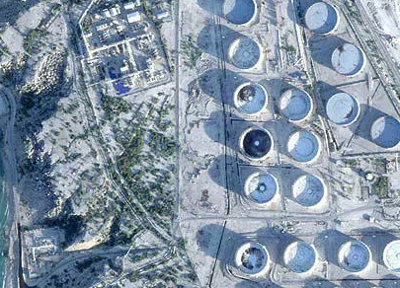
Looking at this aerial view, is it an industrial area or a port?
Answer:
industrial area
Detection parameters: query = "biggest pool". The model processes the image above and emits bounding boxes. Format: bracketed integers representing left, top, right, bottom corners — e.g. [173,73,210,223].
[111,79,129,95]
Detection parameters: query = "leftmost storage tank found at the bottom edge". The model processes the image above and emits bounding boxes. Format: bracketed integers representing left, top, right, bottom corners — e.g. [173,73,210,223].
[236,242,272,278]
